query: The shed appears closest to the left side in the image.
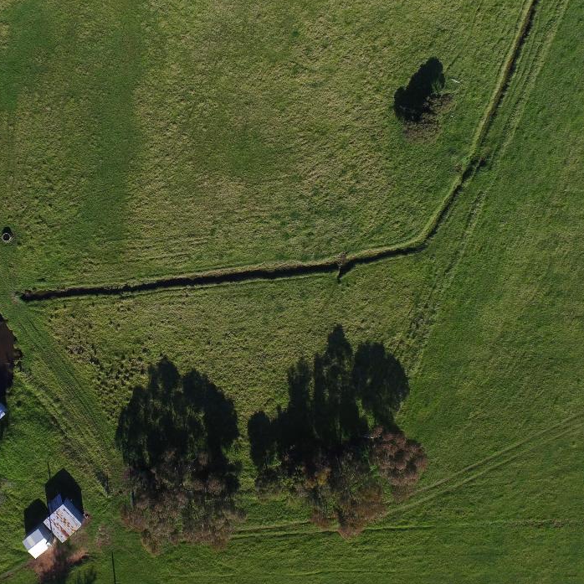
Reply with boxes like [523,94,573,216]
[22,521,54,559]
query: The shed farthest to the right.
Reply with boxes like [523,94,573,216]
[43,493,85,543]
